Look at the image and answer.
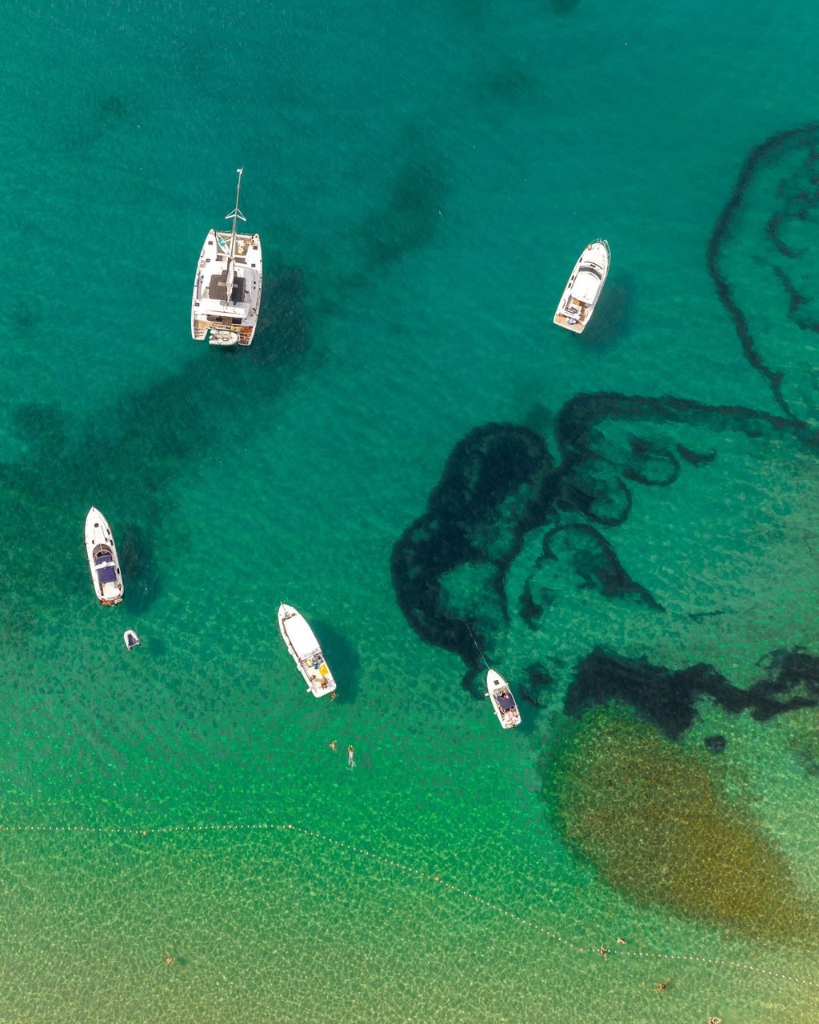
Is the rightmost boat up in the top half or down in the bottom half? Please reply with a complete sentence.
You can find the rightmost boat in the top half.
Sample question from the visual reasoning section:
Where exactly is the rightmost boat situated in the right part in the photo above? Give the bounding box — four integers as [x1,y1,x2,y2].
[554,237,611,334]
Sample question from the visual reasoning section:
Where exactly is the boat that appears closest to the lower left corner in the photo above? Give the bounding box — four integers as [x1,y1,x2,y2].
[124,629,139,650]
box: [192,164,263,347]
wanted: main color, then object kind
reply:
white boat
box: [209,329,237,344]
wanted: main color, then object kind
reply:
white boat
